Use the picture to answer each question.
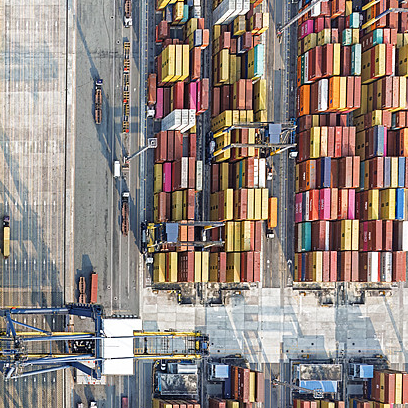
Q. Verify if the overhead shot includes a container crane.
Yes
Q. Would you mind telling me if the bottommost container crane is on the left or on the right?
left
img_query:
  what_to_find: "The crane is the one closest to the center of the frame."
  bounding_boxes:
[140,219,227,254]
